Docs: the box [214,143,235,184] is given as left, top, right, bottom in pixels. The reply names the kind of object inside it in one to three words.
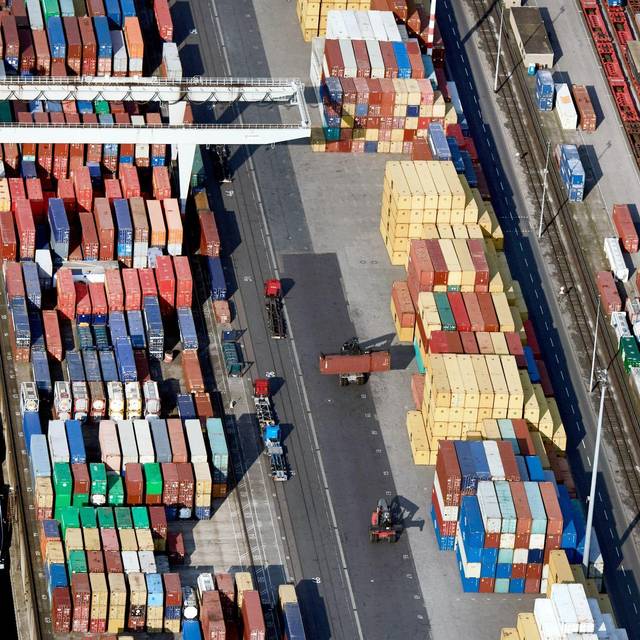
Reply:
truck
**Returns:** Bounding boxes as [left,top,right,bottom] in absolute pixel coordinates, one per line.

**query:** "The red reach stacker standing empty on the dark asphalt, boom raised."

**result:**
[369,498,398,541]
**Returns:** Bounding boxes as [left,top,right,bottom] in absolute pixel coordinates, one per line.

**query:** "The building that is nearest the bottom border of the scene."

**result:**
[509,6,554,68]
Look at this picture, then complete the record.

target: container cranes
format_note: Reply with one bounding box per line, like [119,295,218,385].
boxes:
[0,72,311,222]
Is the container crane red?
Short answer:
No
